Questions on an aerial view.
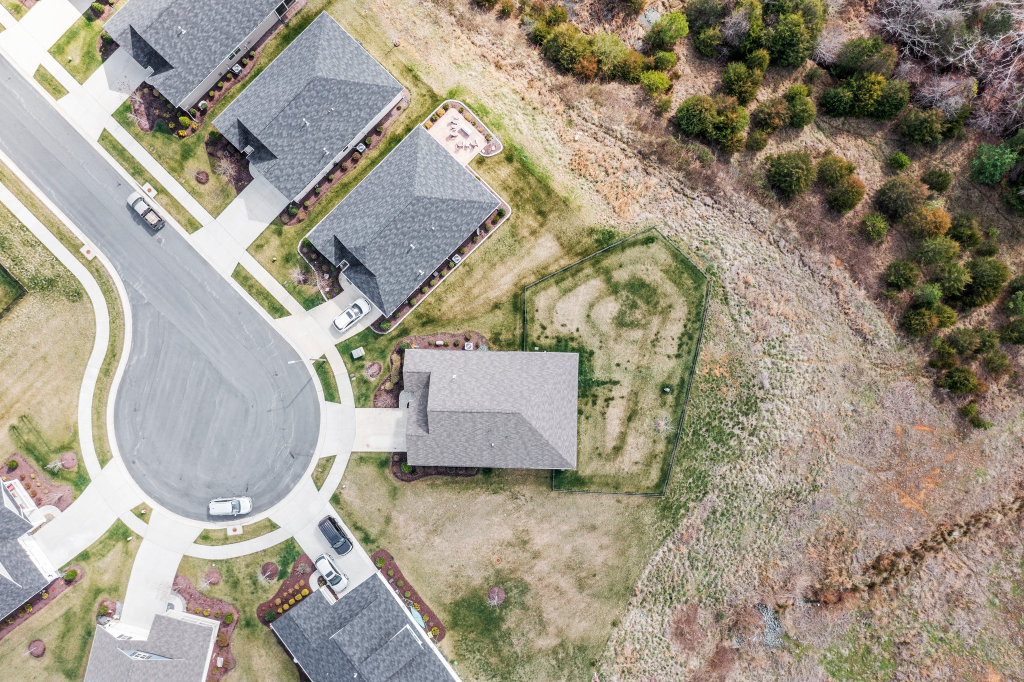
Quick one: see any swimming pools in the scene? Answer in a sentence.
No, this view has no swimming pool in it.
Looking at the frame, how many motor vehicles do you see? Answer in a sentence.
I count 5 motor vehicles.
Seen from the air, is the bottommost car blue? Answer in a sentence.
No, the bottommost car is actually white.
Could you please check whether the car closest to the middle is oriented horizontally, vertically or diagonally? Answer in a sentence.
The car closest to the middle runs diagonally in the image.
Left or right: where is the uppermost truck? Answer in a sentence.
The uppermost truck is on the left side of the image.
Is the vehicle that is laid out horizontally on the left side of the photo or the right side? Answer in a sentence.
The vehicle that is laid out horizontally appears in the left half of the scene.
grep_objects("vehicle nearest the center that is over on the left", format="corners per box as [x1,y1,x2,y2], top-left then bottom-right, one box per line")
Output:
[332,297,374,334]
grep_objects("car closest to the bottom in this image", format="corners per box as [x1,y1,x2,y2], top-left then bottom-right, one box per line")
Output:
[315,550,349,594]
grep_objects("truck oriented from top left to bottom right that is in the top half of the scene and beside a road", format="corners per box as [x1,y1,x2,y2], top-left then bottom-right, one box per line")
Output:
[123,189,171,237]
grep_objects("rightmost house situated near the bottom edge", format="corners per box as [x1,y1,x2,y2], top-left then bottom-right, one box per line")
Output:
[270,568,452,682]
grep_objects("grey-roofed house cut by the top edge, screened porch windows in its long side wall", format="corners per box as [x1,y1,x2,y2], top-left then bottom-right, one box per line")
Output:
[102,0,280,109]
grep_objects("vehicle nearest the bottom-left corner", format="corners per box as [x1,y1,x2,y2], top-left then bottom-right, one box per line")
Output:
[207,494,256,517]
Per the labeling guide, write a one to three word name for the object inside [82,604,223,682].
house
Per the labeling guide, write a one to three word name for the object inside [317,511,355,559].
car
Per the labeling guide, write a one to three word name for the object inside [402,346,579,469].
house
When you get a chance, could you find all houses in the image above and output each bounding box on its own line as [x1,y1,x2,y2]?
[0,475,60,619]
[82,604,223,682]
[402,346,579,469]
[270,568,452,682]
[212,10,405,205]
[102,0,280,109]
[306,123,502,318]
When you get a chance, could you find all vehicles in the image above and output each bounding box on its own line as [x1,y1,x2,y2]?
[315,550,349,594]
[123,189,171,237]
[332,297,374,334]
[207,494,256,517]
[317,511,355,559]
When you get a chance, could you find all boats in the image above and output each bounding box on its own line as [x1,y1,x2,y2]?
[410,607,426,629]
